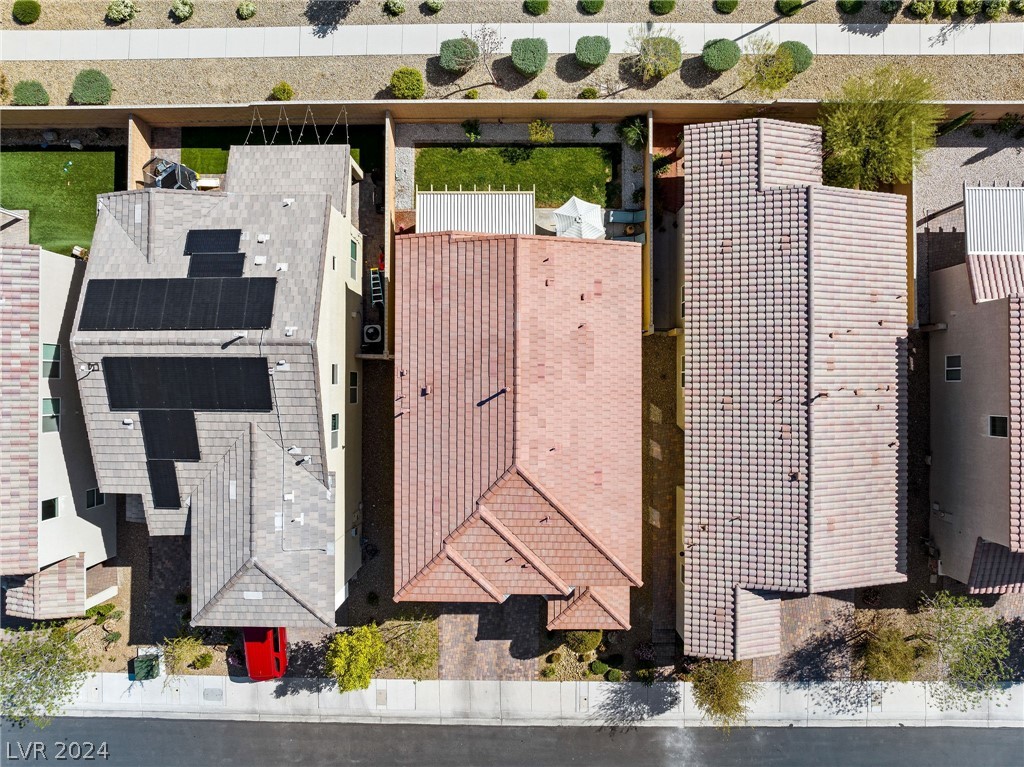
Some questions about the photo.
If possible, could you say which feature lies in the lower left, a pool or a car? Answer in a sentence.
You can see a car in the lower left.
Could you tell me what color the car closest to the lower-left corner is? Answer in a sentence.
The car closest to the lower-left corner is red.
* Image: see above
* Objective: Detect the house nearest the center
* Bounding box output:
[392,183,645,631]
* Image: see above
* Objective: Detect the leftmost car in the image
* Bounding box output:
[245,627,292,683]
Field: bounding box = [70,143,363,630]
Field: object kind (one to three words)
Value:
house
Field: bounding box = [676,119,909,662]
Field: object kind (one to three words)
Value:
house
